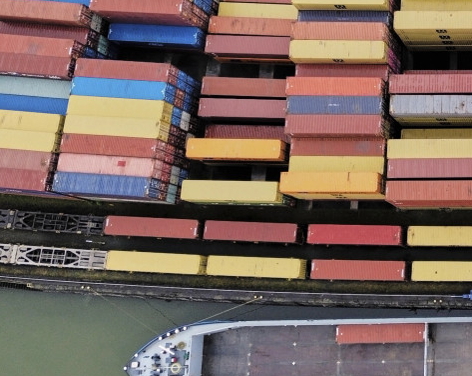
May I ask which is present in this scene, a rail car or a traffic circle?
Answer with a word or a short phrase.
rail car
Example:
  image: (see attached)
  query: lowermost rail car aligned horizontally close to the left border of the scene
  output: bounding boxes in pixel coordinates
[14,245,108,271]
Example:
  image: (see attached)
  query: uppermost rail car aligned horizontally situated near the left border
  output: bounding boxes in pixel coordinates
[12,210,107,235]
